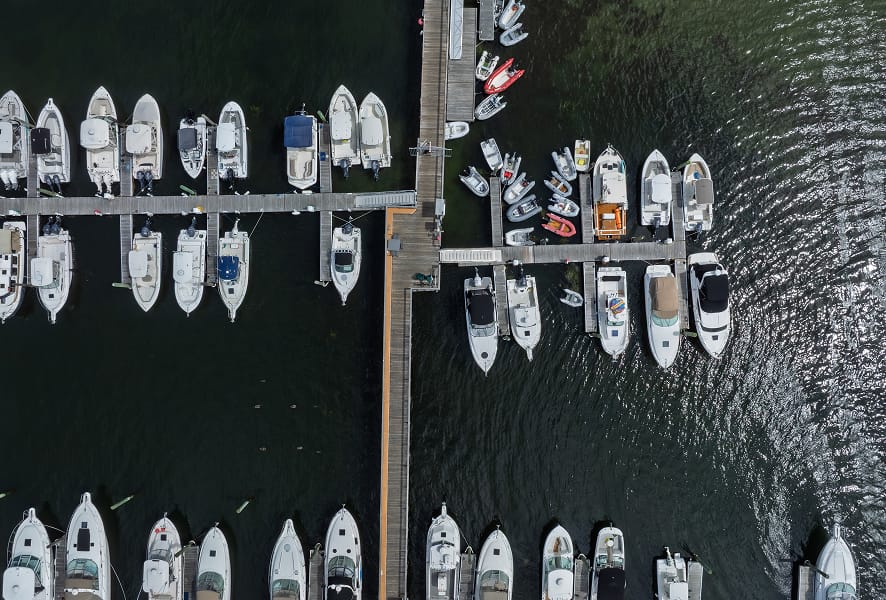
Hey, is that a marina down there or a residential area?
marina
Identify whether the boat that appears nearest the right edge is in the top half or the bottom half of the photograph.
bottom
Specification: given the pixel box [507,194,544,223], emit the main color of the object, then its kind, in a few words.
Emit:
gray boat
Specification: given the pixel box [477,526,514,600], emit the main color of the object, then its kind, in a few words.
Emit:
white boat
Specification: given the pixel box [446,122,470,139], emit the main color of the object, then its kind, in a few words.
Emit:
white boat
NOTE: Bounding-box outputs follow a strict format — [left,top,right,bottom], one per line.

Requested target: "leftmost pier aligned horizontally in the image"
[0,194,363,216]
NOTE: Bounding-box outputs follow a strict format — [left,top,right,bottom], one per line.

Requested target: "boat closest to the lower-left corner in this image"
[3,506,55,600]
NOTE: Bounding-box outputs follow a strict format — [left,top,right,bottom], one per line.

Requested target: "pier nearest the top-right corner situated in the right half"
[670,171,684,241]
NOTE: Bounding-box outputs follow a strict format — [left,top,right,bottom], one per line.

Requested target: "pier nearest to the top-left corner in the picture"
[28,127,42,197]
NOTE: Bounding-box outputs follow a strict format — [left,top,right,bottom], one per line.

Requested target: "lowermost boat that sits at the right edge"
[811,524,859,600]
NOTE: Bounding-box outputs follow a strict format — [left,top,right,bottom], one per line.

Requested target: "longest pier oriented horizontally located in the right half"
[459,240,686,265]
